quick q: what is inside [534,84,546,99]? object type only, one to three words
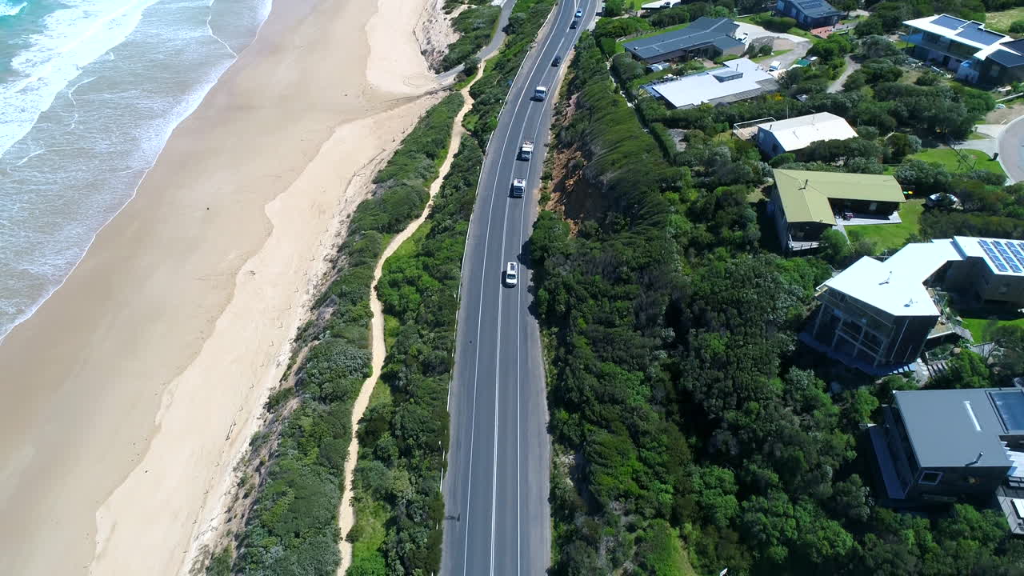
vehicle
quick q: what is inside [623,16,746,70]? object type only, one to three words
house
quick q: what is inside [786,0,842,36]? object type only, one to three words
house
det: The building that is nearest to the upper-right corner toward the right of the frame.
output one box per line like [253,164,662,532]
[903,14,1024,90]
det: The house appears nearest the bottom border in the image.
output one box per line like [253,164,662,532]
[859,385,1024,537]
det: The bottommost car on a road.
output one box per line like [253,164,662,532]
[505,262,518,284]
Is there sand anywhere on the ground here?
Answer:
Yes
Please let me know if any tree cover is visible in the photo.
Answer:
Yes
